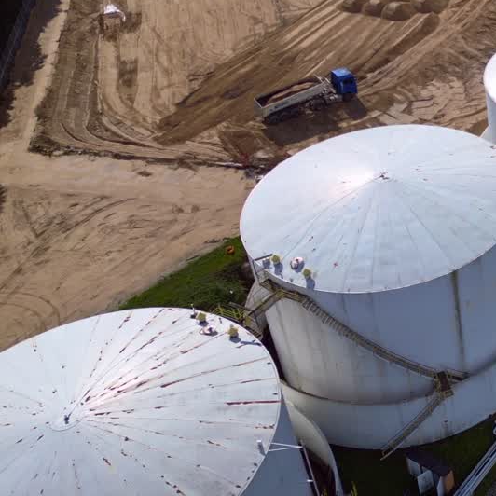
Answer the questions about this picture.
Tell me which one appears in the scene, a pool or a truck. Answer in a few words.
truck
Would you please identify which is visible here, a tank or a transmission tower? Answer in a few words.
tank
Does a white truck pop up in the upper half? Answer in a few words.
No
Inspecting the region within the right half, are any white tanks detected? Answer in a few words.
Yes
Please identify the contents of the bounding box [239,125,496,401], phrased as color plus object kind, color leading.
white storage tank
